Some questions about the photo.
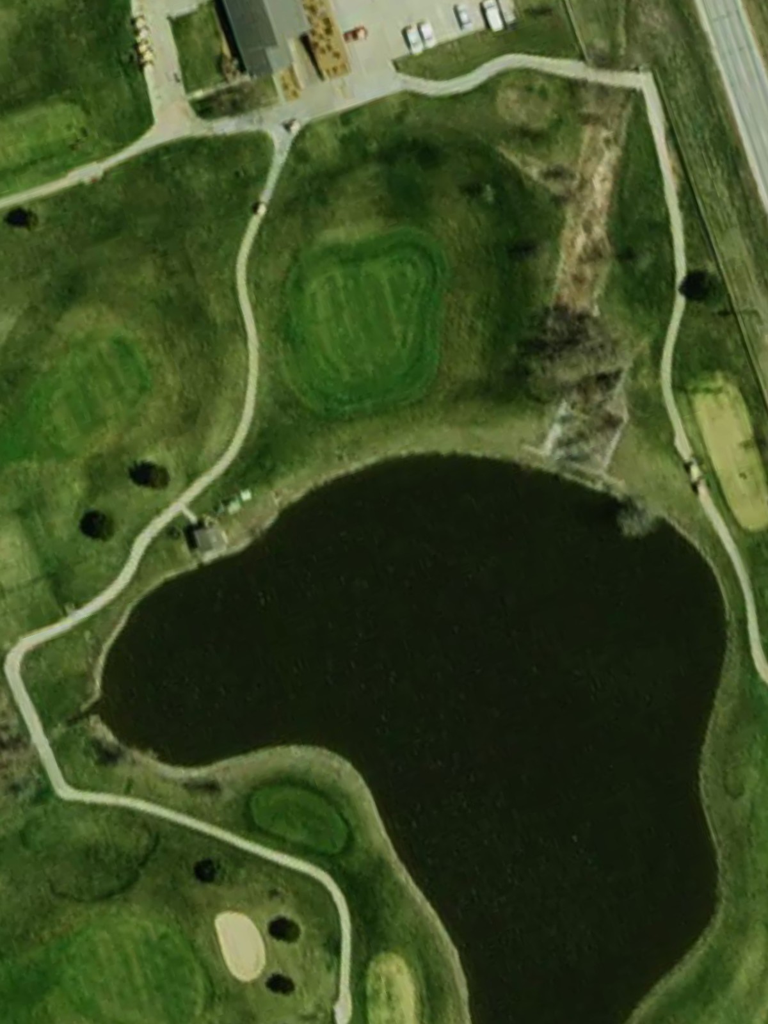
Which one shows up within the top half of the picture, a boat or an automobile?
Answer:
automobile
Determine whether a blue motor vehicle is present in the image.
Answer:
No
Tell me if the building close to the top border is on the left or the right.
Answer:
left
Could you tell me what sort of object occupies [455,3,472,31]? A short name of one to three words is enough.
car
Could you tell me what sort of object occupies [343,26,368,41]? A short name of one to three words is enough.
vehicle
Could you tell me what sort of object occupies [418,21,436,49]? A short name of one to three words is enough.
car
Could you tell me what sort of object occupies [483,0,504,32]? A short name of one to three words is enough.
vehicle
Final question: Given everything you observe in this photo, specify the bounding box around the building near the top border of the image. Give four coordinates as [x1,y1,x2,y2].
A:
[222,0,306,75]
